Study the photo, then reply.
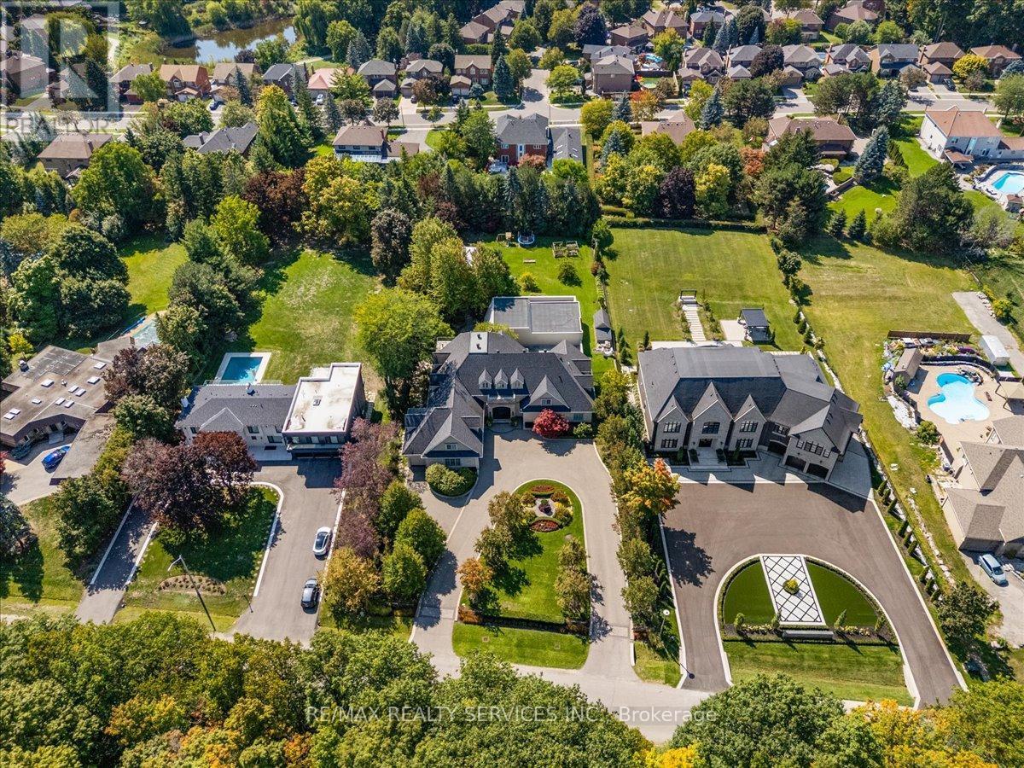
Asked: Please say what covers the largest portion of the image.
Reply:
trees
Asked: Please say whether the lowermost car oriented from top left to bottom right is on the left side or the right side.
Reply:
right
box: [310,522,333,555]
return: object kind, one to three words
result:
car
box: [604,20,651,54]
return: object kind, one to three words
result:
house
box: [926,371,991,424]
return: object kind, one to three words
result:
swimming pool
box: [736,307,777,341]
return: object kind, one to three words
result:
gazebo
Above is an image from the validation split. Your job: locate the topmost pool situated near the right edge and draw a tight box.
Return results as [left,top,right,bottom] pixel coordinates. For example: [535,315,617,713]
[992,172,1024,195]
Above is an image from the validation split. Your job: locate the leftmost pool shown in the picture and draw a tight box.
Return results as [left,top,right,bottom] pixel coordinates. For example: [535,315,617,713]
[129,309,161,346]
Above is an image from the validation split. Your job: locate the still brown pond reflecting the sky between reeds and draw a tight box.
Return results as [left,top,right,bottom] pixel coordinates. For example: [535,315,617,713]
[161,20,296,61]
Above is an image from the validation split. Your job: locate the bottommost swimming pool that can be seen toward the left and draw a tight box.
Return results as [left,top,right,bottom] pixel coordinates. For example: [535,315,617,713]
[219,355,264,380]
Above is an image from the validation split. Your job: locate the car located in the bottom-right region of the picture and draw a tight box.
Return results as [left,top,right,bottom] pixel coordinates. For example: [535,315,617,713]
[977,550,1010,584]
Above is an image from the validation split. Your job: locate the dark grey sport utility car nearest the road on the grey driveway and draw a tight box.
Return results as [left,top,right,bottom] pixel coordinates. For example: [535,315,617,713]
[296,574,320,609]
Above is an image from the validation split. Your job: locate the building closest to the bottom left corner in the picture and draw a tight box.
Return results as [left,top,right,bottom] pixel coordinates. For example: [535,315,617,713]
[0,335,138,494]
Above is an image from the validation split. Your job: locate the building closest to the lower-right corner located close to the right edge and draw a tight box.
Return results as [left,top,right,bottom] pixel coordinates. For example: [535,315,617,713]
[937,413,1024,574]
